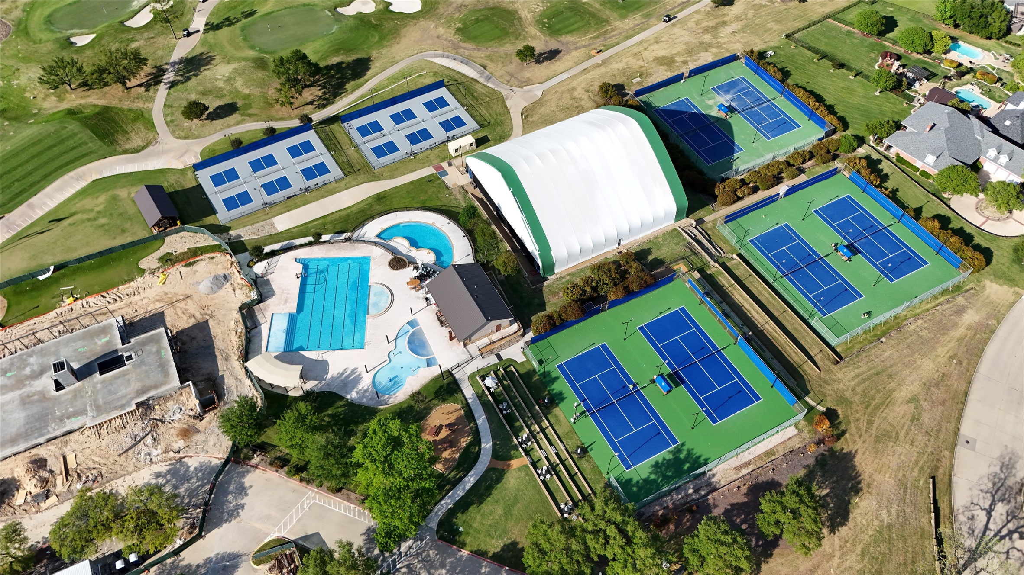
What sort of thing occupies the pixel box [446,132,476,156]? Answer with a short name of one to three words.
shed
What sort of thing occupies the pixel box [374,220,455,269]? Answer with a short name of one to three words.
swimming pool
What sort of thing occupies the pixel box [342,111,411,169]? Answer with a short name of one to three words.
sports court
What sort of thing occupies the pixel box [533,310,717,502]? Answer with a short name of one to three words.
tennis court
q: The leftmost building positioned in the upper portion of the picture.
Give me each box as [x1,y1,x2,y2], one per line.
[134,184,181,232]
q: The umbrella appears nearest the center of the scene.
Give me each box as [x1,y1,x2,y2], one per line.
[483,369,499,384]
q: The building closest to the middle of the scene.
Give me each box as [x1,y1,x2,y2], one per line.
[426,263,514,347]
